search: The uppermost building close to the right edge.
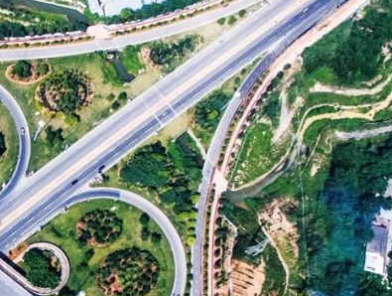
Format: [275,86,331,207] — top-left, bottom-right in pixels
[363,225,388,255]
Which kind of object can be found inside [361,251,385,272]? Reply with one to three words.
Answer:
house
